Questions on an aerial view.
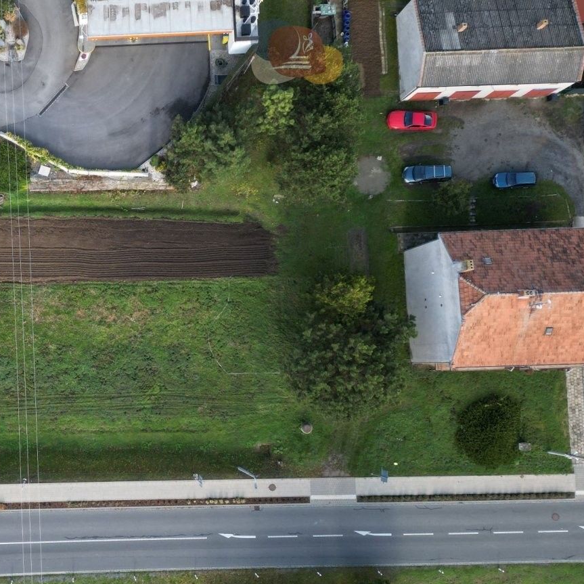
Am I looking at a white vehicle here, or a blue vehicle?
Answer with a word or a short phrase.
blue vehicle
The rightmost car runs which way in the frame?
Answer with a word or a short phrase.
from left to right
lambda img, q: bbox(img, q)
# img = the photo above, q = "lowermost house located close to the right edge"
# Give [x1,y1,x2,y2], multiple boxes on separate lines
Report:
[403,230,584,368]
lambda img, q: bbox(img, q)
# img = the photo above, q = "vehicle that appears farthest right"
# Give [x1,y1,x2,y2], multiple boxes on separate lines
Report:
[493,167,542,190]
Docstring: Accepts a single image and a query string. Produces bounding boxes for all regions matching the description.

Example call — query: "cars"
[386,106,439,131]
[493,167,542,190]
[402,162,456,185]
